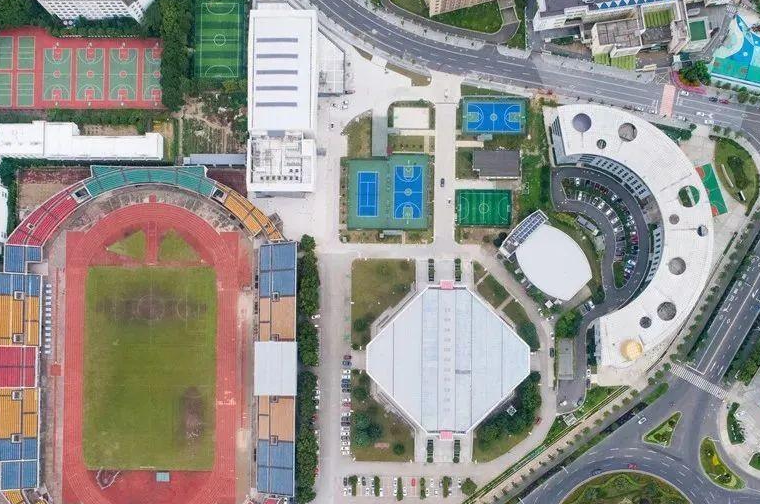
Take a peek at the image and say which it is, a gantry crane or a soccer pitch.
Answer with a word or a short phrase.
soccer pitch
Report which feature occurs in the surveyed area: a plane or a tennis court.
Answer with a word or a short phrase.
tennis court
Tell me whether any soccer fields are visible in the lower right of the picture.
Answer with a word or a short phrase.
No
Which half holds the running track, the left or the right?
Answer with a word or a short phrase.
left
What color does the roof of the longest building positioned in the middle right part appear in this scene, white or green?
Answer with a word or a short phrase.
white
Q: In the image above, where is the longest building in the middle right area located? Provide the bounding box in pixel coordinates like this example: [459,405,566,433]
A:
[557,104,713,369]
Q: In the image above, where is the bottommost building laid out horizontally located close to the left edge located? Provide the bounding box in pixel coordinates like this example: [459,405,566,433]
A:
[0,122,171,165]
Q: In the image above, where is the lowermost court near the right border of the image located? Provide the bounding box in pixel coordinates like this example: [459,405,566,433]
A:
[696,162,729,217]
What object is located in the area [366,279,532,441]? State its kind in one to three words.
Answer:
building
